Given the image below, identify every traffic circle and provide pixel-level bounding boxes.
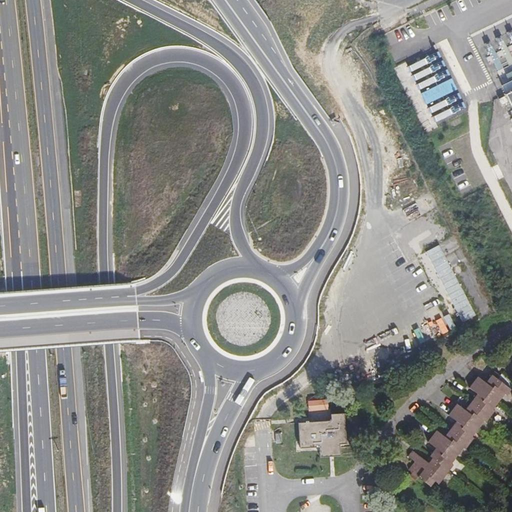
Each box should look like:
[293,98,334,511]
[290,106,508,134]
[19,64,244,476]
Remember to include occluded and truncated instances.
[182,256,306,381]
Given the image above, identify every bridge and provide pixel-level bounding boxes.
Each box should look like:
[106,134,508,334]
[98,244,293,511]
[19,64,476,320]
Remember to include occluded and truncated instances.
[0,282,140,351]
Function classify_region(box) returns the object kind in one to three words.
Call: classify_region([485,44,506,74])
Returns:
truck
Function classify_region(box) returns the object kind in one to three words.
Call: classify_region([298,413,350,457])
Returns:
building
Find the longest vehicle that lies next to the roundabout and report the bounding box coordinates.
[234,377,256,406]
